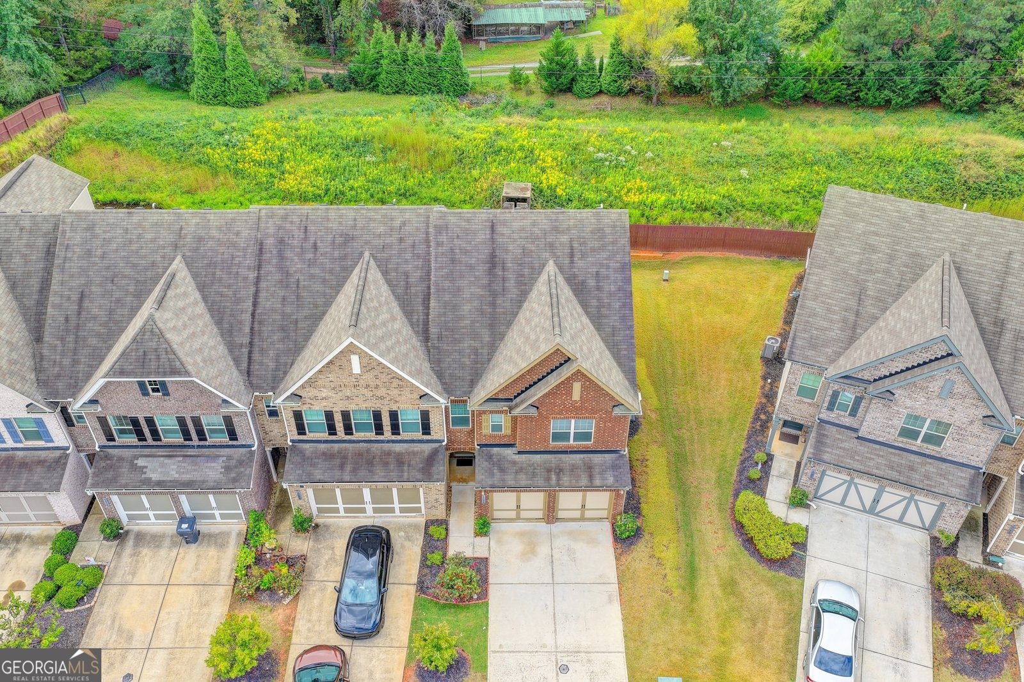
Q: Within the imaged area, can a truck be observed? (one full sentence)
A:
No, no truck is visible in the scene.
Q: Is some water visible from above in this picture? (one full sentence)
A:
No, no water is visible.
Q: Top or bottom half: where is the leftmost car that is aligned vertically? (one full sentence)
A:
It is in the bottom half that the leftmost car that is aligned vertically appears.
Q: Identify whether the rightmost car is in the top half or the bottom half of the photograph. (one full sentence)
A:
The rightmost car sits in the bottom half of the picture.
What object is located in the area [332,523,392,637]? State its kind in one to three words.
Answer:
car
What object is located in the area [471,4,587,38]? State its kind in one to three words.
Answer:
shed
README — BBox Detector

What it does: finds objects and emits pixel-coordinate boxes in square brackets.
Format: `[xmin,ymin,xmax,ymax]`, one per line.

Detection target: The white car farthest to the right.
[804,581,867,682]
